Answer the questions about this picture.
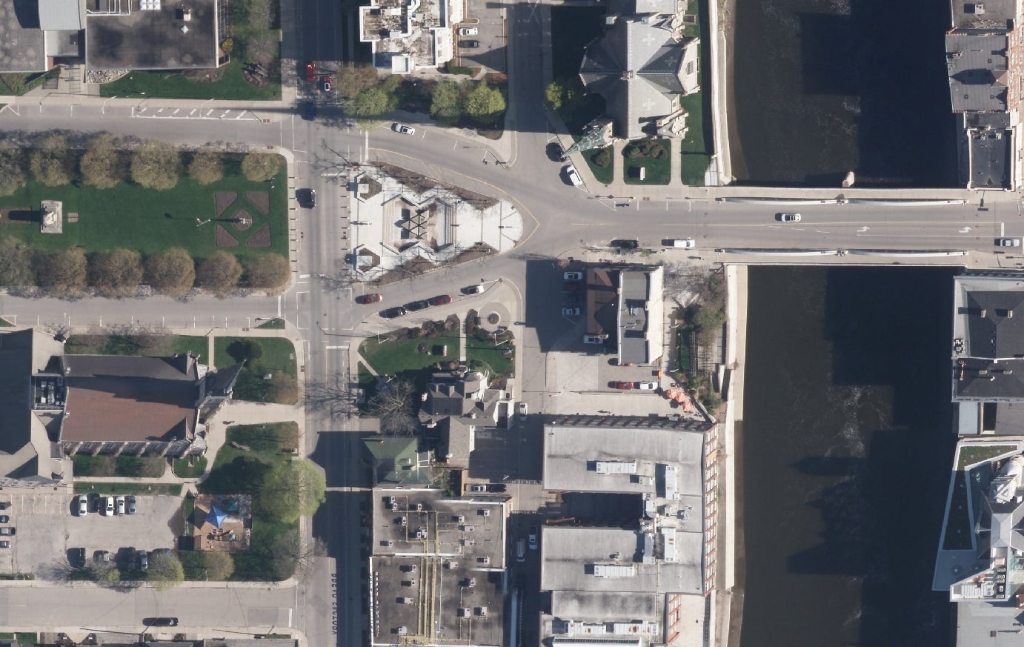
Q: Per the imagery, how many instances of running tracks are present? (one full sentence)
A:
Not a single running track can be seen.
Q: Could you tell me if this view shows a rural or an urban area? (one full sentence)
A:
It looks urban.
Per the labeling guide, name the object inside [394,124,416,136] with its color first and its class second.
white vehicle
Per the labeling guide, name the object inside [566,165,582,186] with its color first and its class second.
white car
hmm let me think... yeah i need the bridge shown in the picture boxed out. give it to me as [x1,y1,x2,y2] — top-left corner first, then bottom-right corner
[720,169,1024,266]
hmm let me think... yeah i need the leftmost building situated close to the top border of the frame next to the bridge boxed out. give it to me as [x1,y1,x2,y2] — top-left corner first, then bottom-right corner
[564,13,699,153]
